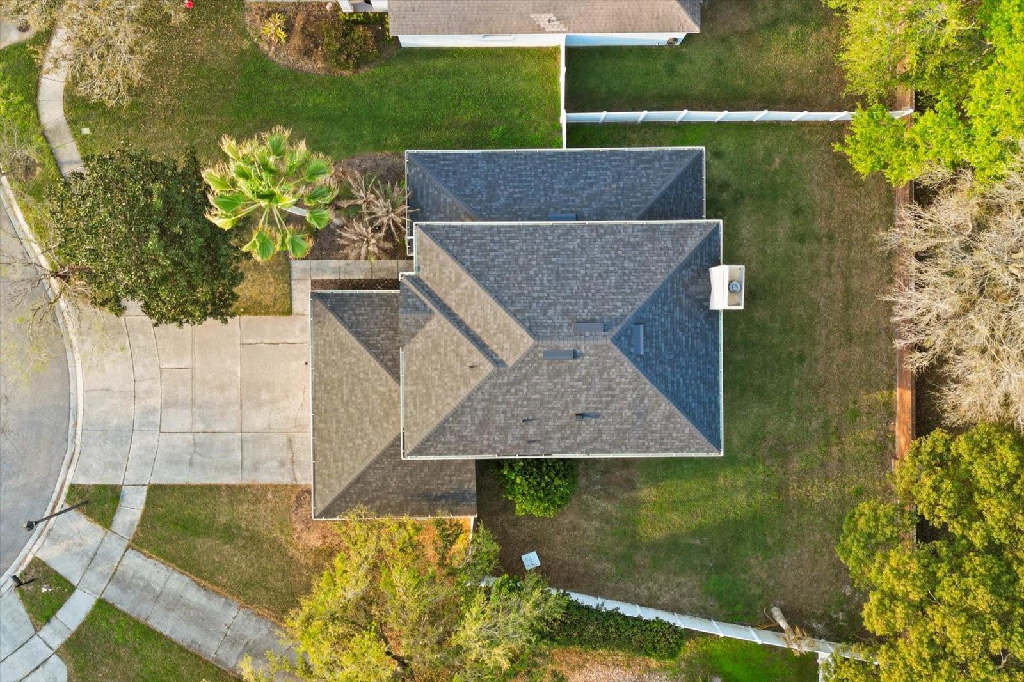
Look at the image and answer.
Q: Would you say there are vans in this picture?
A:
No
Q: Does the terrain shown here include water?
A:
No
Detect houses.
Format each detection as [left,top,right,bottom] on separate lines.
[308,146,745,522]
[335,0,703,47]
